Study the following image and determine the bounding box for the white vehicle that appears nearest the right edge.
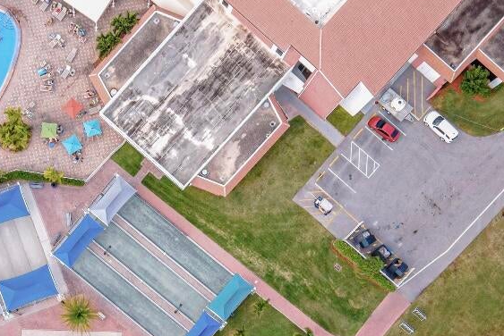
[421,111,459,142]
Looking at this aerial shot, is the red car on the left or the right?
right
